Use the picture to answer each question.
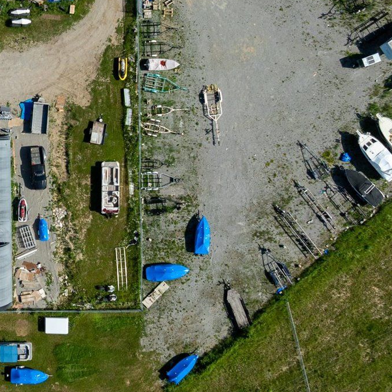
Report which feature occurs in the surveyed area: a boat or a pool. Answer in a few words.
boat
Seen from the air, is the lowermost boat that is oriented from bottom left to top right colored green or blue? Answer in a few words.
blue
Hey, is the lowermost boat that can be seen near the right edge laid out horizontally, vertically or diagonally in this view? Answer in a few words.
diagonally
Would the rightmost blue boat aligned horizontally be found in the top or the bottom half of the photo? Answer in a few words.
bottom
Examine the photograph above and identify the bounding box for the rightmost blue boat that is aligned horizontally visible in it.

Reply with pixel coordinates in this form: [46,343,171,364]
[145,262,188,282]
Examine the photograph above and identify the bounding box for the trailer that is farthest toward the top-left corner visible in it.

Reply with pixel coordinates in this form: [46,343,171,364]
[35,94,54,134]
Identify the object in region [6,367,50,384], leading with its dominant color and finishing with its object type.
blue boat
